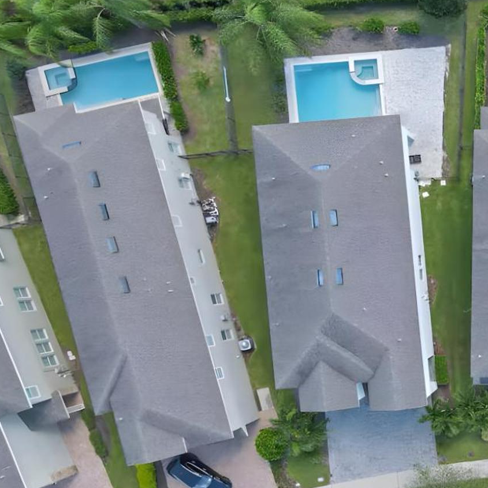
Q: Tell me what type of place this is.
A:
residential area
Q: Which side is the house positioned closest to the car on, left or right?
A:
left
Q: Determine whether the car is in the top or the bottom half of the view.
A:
bottom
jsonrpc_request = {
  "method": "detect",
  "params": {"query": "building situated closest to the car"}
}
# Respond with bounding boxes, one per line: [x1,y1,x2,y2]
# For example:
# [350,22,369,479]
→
[12,96,261,465]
